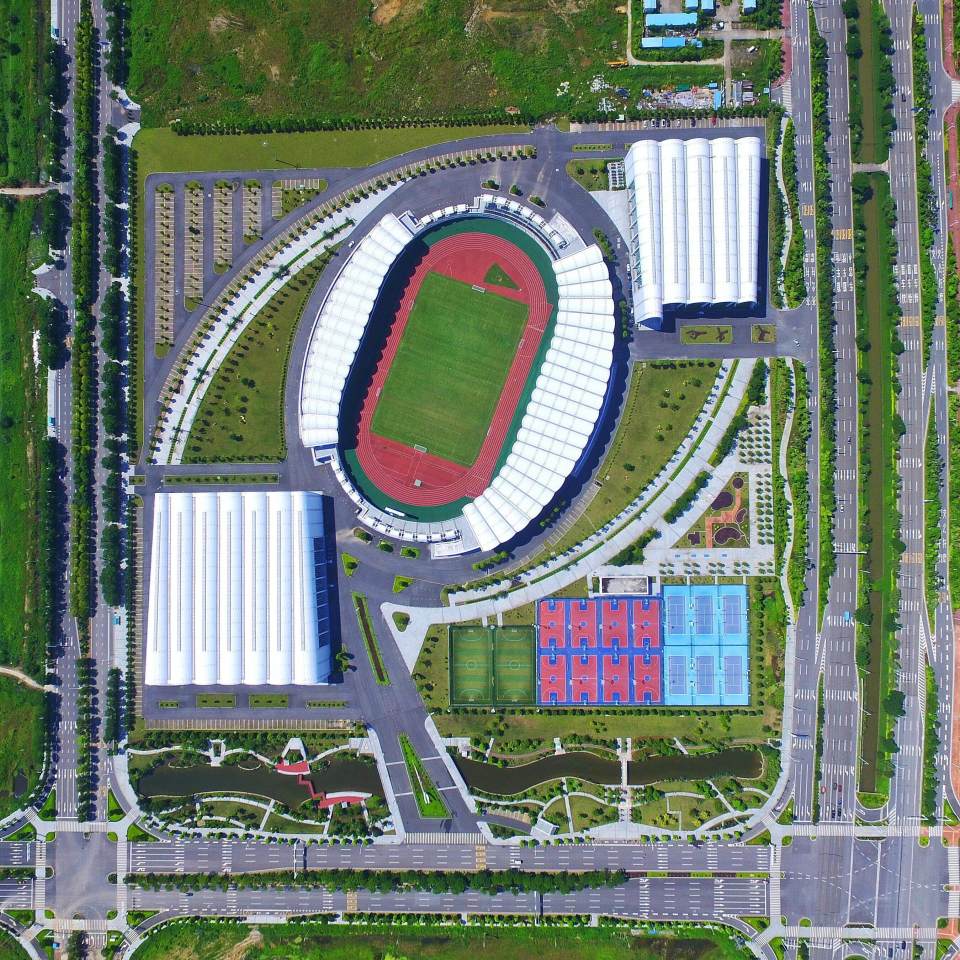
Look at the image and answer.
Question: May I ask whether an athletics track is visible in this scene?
Yes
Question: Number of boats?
0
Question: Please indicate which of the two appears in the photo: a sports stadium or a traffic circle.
sports stadium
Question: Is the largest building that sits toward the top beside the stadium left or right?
right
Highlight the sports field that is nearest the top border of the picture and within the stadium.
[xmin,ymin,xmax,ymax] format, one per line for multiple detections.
[372,270,529,467]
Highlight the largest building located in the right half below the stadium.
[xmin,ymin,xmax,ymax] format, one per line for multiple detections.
[601,576,649,594]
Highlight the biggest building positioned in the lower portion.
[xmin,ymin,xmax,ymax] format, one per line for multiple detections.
[144,492,334,684]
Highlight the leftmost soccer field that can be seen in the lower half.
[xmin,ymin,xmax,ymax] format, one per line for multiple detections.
[450,626,493,706]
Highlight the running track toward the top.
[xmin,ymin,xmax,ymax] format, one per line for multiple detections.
[352,231,556,507]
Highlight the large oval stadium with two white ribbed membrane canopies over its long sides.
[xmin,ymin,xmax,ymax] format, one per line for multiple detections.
[294,190,618,558]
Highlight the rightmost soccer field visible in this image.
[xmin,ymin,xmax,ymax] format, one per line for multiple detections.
[493,626,536,706]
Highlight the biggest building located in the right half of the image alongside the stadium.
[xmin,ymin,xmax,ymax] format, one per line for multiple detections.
[623,142,762,332]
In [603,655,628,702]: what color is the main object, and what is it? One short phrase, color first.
red basketball court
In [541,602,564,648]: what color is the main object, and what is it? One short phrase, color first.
red basketball court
